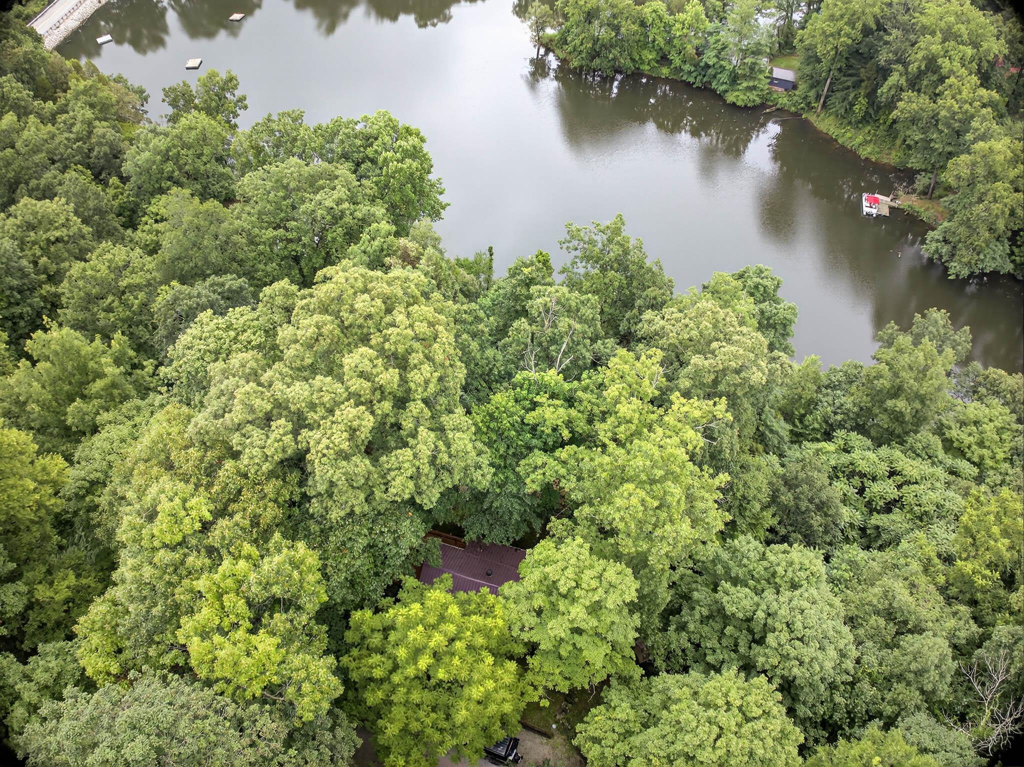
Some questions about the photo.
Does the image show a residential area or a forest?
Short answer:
forest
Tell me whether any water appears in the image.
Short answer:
Yes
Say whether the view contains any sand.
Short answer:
No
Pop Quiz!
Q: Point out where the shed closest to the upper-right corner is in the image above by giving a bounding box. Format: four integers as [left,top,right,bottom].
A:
[768,70,796,87]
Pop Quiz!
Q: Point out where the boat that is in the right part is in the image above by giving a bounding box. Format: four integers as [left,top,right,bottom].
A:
[862,193,881,218]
